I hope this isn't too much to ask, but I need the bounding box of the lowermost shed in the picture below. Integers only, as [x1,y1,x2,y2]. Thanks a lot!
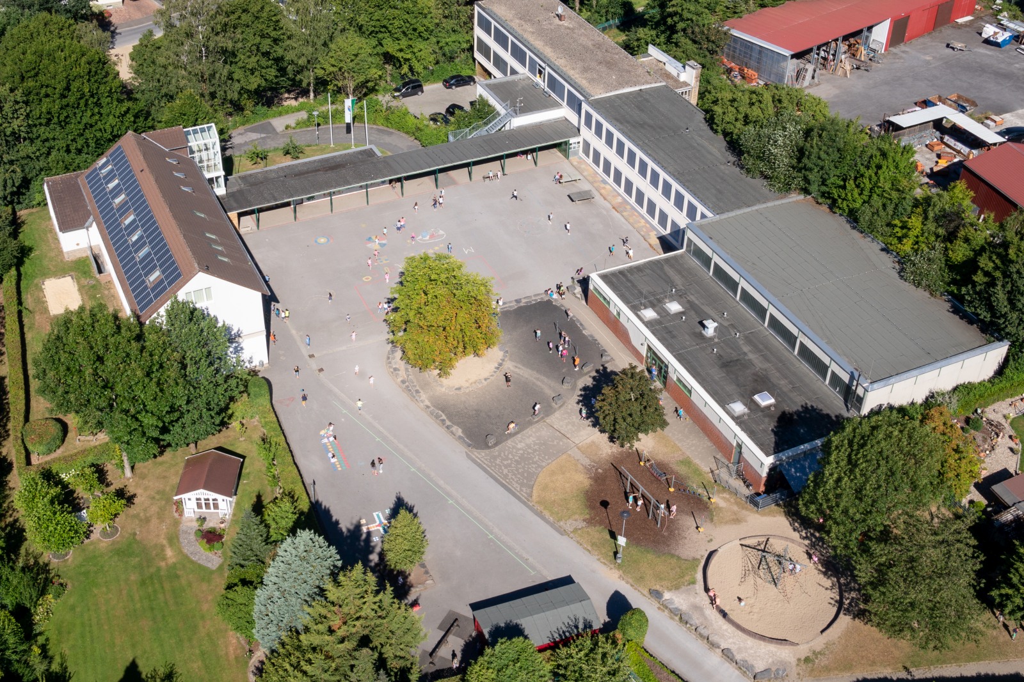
[476,581,607,666]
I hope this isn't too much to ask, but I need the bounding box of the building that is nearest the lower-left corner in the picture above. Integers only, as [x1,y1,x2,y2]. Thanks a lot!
[172,440,244,521]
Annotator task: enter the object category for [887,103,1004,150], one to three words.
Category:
shed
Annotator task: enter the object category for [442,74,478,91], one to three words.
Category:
car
